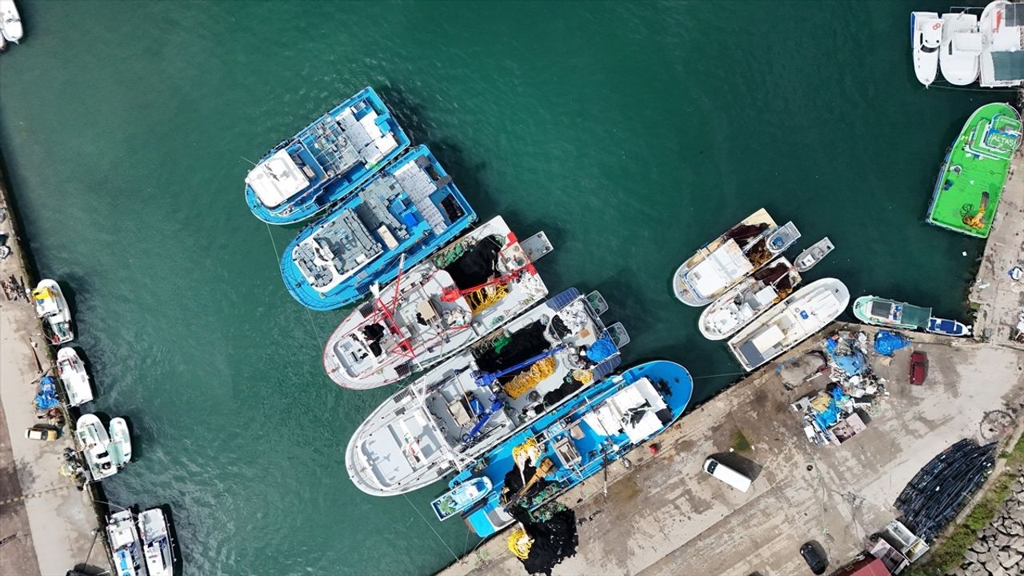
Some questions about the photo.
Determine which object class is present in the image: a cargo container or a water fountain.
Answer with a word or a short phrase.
cargo container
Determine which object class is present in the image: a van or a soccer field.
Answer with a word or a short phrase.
van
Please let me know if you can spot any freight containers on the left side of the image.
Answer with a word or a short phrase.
No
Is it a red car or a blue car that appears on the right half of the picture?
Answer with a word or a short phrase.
red car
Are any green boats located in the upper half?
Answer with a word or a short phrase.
Yes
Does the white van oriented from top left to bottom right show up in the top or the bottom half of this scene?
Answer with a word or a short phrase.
bottom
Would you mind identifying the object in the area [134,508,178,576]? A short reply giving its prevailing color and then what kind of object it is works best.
white boat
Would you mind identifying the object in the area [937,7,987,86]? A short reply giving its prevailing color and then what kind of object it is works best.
white boat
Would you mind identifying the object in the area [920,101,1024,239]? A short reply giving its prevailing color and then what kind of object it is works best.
green boat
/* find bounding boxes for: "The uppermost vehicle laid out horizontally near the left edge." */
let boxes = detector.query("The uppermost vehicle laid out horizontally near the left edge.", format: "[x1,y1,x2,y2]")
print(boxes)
[26,425,62,442]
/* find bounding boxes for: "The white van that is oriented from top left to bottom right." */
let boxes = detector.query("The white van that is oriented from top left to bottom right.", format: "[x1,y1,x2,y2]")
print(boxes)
[699,452,754,494]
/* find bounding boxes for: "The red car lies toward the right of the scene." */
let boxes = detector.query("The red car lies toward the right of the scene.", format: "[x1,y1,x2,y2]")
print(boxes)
[906,350,927,385]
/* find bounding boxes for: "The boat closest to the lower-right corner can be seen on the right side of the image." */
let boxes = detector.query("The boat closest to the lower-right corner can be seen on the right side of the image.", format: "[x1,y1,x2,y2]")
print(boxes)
[924,317,969,335]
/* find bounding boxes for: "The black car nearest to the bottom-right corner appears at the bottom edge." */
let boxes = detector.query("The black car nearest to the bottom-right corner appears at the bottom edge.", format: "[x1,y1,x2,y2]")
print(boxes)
[797,538,827,576]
